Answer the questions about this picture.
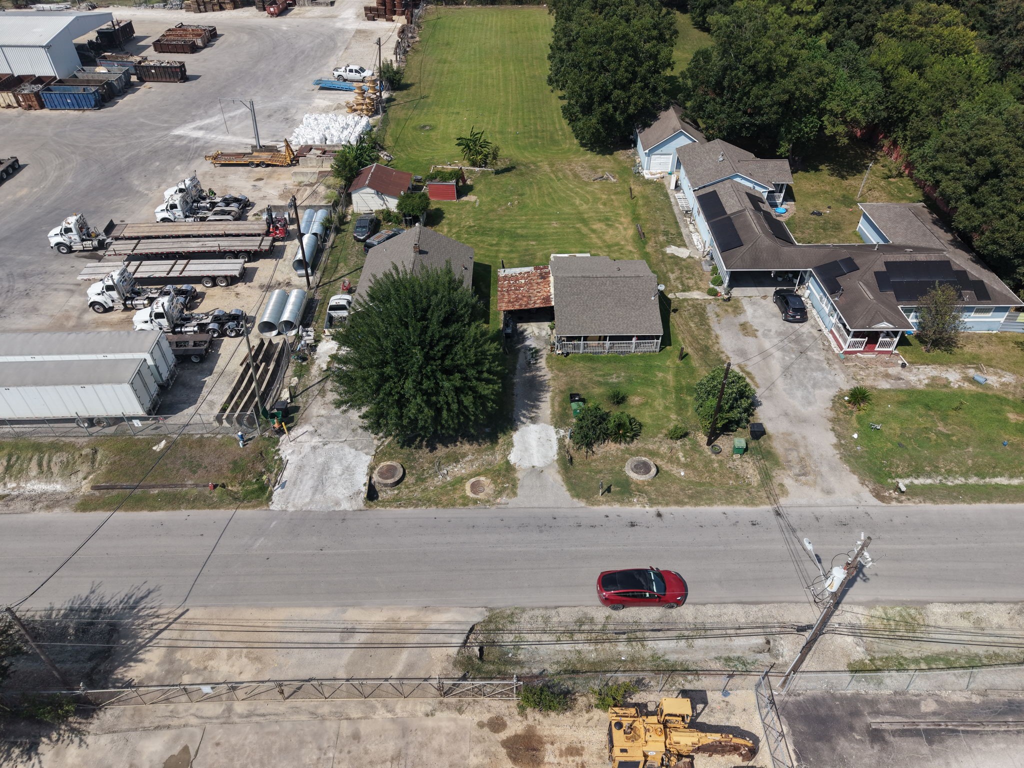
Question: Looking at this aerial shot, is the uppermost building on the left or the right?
left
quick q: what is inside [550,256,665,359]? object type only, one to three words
house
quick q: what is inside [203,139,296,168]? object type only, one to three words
trailer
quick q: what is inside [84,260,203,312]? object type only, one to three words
truck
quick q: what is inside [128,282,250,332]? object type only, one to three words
truck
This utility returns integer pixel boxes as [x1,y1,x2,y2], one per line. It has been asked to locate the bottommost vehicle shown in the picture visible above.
[598,563,690,610]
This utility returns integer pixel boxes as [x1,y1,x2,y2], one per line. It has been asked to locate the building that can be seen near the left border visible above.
[0,11,115,77]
